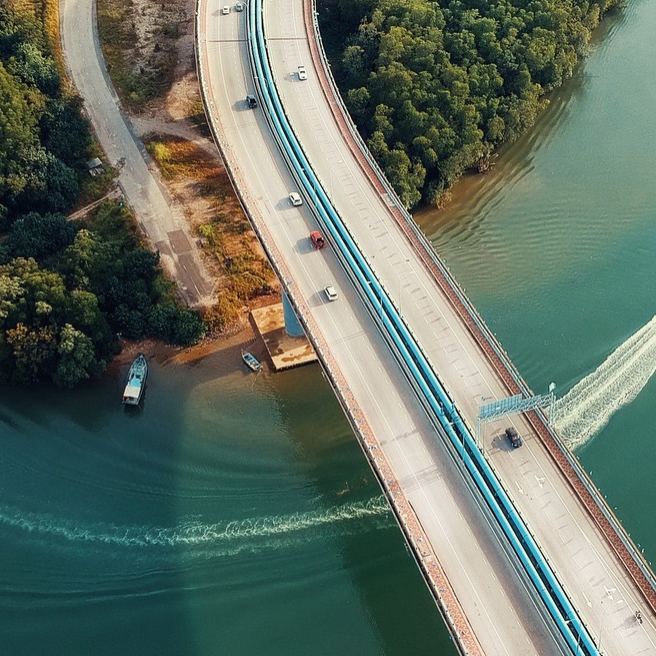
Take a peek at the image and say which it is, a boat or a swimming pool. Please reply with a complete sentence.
I can see a boat in this picture.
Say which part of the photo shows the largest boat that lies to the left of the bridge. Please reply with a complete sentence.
The largest boat that lies to the left of the bridge is in the left part of the image.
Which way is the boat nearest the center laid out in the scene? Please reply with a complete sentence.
The boat nearest the center runs diagonally in the image.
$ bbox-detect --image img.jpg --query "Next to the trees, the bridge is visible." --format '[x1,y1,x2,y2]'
[191,0,656,656]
